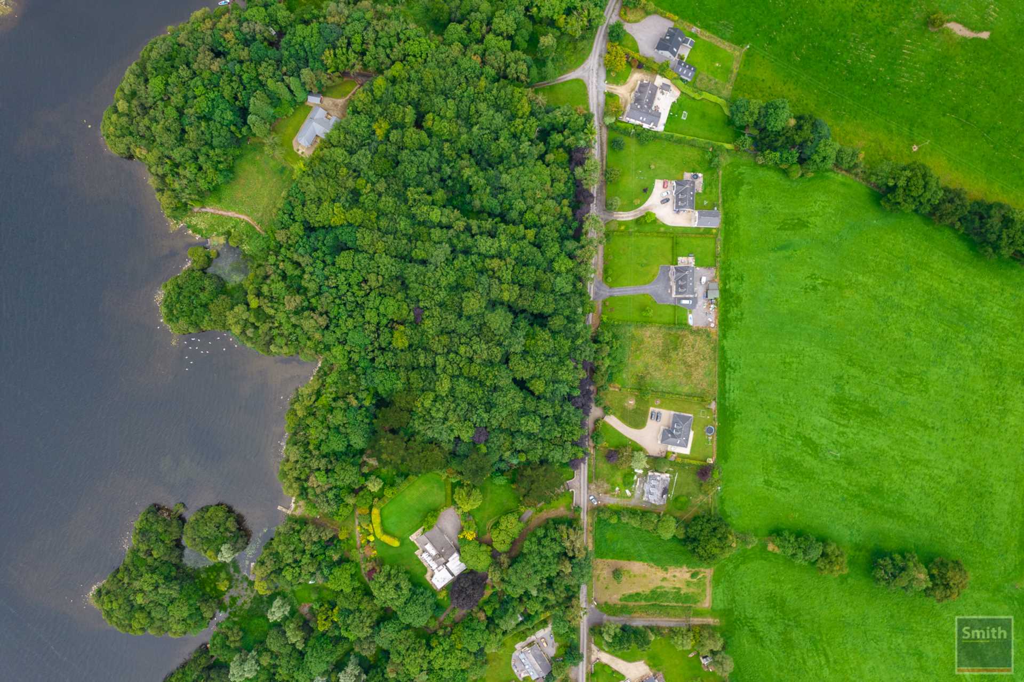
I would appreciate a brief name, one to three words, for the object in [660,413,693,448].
house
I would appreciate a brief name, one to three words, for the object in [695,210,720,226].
building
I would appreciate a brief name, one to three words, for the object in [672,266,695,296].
house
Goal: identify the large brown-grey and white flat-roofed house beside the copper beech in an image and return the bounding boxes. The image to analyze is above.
[416,524,467,590]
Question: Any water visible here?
Yes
